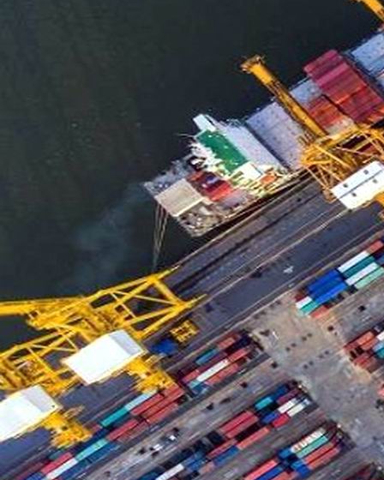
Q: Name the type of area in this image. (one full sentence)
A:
This image shows a port.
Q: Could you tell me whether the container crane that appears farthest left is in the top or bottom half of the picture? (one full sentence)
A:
The container crane that appears farthest left sits in the bottom half of the picture.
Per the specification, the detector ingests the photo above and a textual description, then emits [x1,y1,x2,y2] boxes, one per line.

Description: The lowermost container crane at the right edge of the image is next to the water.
[231,60,384,229]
